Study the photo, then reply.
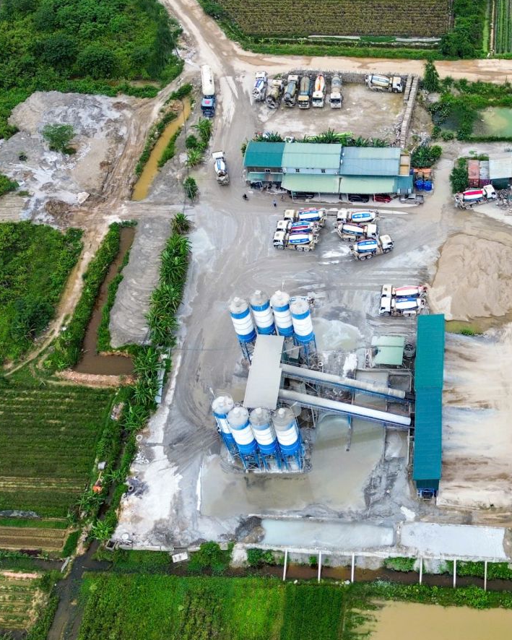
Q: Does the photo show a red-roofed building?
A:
No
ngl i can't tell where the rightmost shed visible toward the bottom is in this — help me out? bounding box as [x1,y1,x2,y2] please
[413,314,443,491]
